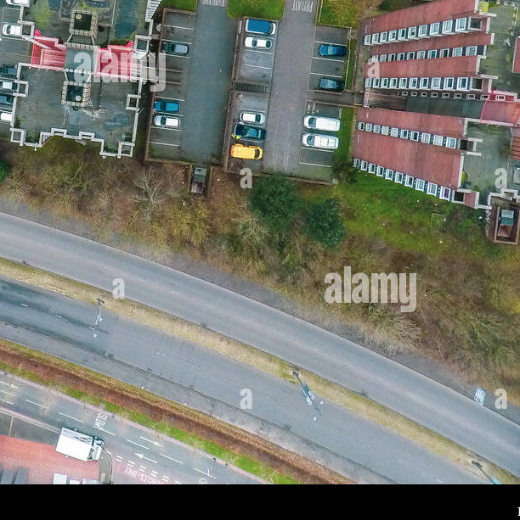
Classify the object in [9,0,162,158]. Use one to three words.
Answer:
building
